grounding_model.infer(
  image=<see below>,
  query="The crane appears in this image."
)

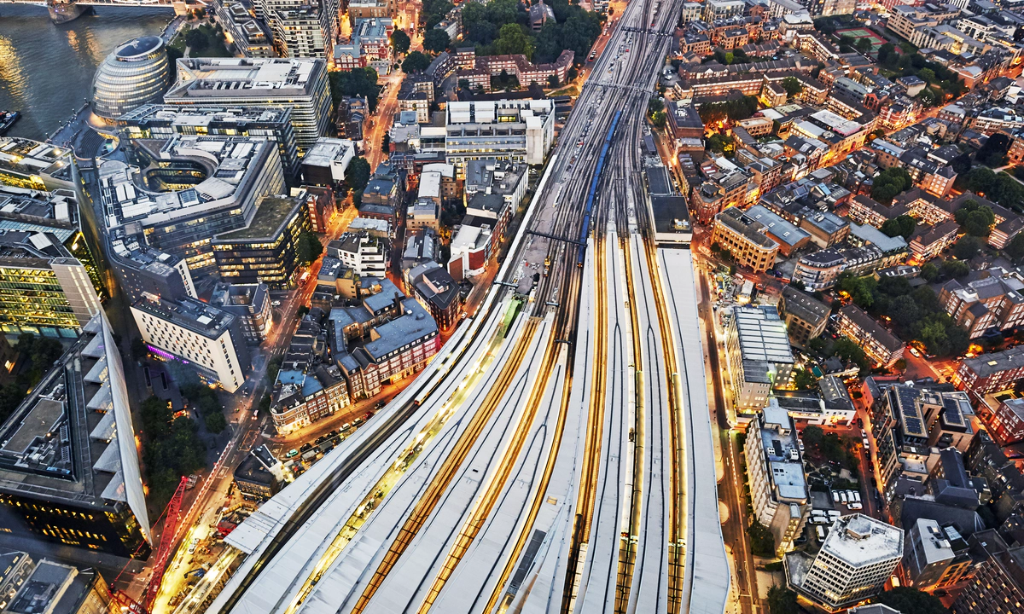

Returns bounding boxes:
[112,477,198,614]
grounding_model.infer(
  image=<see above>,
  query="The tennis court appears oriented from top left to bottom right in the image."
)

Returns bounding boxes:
[834,26,903,66]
